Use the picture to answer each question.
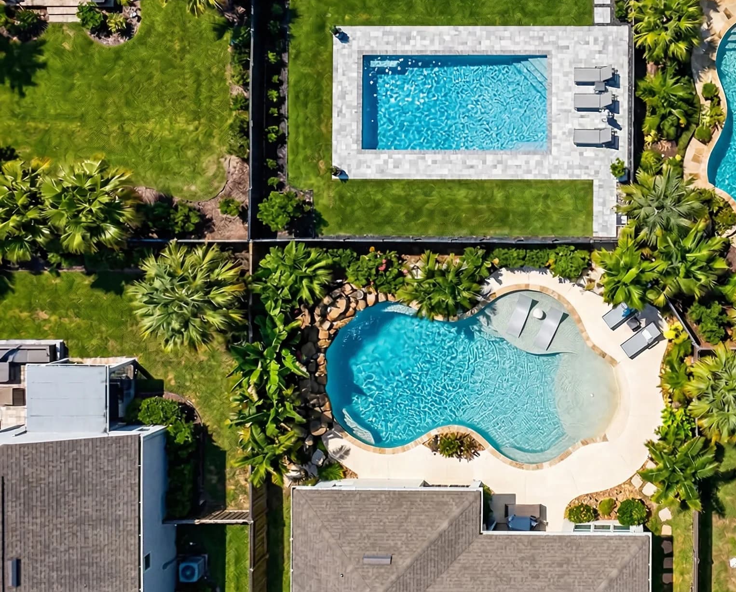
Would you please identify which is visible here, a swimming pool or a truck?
swimming pool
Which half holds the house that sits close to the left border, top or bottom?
bottom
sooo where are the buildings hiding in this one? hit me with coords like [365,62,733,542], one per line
[291,478,653,592]
[0,426,166,592]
